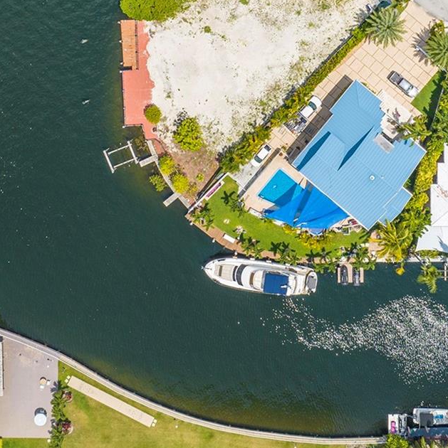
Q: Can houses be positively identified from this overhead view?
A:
Yes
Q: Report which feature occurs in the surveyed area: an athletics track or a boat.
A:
boat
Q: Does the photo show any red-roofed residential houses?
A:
No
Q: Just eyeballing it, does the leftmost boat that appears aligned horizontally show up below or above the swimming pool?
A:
below it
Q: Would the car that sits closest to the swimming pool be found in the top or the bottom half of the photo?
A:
top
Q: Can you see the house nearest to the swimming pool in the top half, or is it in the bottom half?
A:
top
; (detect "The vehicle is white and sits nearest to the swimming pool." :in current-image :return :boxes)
[249,142,273,168]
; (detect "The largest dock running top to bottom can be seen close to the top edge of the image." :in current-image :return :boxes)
[118,20,137,70]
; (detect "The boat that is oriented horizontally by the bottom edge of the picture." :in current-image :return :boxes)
[409,408,448,426]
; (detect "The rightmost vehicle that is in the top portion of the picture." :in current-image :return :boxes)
[387,70,419,98]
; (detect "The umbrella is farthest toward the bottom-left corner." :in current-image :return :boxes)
[34,411,48,425]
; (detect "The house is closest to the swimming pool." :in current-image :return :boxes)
[292,80,425,229]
